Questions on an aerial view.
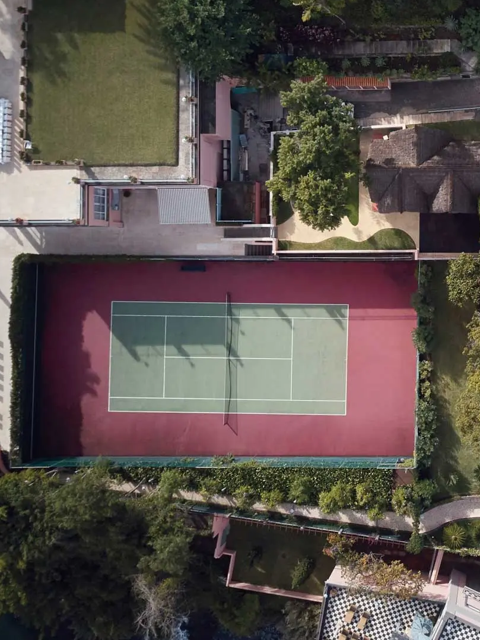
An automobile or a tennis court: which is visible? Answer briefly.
tennis court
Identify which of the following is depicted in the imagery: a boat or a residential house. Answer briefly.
residential house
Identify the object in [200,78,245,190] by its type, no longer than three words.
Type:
house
